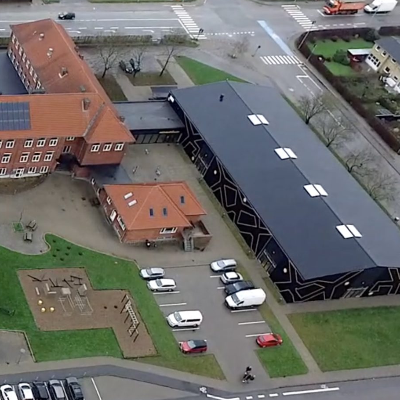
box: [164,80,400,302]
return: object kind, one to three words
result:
building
